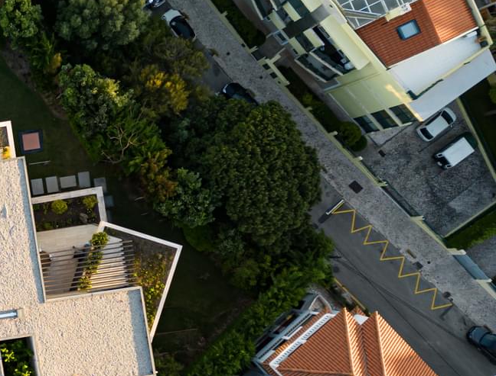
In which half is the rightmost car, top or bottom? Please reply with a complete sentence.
Seen from above, the rightmost car lies in the bottom half of the view.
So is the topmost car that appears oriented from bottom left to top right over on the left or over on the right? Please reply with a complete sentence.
It is on the right.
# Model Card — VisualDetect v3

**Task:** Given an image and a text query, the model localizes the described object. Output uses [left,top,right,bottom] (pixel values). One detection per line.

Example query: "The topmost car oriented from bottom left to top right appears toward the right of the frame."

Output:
[410,106,459,143]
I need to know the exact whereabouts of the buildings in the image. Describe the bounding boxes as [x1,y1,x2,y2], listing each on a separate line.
[0,122,157,376]
[247,298,437,376]
[244,0,496,130]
